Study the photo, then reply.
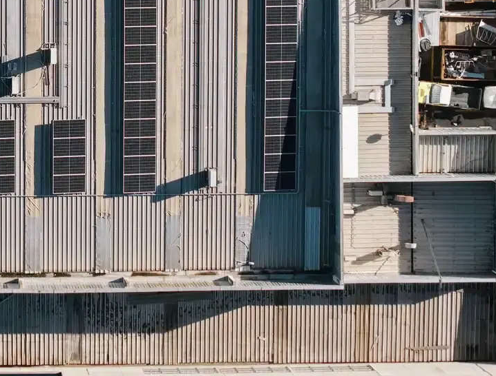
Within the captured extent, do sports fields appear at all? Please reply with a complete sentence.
No, I find no sports field anywhere in the image.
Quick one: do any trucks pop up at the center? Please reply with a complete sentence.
No, no truck appears at the center.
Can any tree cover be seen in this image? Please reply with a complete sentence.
No, no tree cover is visible.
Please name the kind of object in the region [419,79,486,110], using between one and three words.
truck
